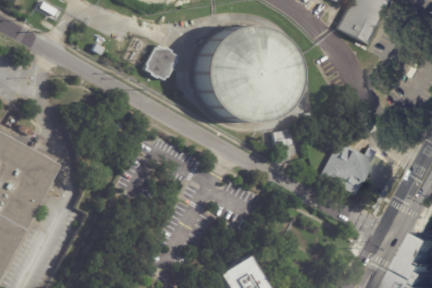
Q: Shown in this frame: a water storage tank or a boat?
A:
water storage tank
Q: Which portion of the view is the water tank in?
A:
top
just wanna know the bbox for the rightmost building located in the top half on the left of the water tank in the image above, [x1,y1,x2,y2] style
[142,46,176,80]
